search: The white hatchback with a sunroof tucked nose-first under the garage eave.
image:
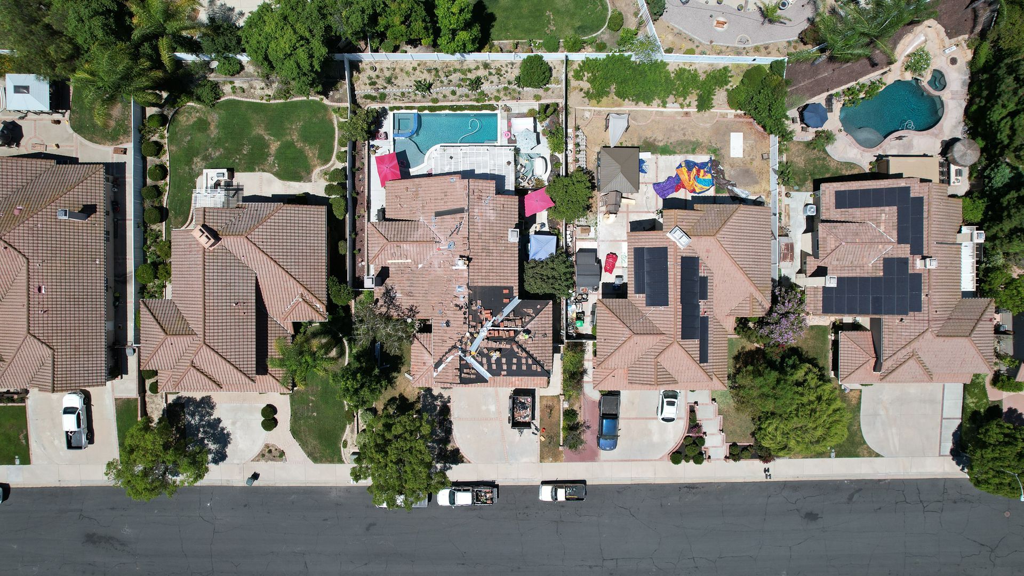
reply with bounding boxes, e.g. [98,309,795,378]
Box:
[659,390,682,423]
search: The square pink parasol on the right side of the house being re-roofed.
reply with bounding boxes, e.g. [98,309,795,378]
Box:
[525,188,553,216]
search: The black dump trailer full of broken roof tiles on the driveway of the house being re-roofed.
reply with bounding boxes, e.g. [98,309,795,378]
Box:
[507,393,537,445]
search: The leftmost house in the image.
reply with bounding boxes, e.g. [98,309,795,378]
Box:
[0,156,120,402]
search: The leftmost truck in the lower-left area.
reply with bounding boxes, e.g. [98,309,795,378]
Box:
[56,392,89,453]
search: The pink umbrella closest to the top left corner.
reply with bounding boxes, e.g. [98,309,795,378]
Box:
[375,152,401,188]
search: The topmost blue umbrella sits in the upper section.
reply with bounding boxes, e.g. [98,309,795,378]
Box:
[799,103,827,128]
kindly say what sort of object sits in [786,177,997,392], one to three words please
house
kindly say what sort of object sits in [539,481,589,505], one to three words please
truck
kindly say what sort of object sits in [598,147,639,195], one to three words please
gazebo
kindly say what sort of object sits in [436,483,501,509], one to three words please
truck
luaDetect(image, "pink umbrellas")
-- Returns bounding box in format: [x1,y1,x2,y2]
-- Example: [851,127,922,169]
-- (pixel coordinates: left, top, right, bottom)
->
[375,152,401,188]
[525,188,553,216]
